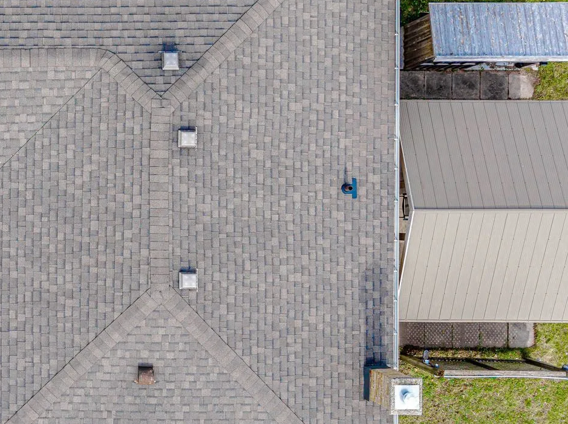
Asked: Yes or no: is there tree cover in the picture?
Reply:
No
